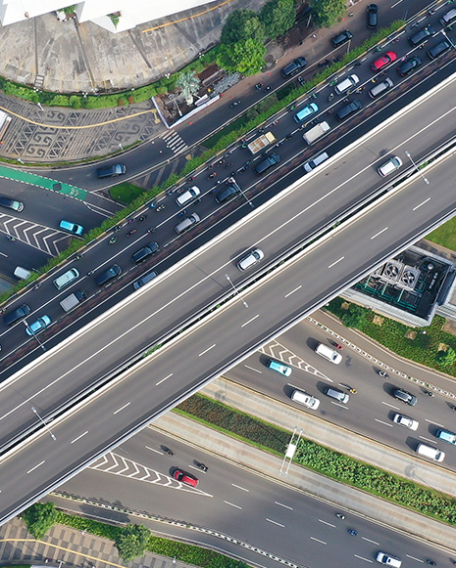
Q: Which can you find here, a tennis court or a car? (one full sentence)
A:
There is a car in the scene.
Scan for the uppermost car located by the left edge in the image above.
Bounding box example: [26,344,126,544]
[0,195,26,213]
